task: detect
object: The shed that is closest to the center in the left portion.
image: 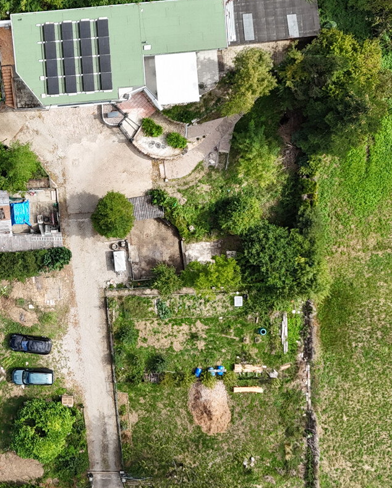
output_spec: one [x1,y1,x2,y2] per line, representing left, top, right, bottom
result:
[129,195,164,221]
